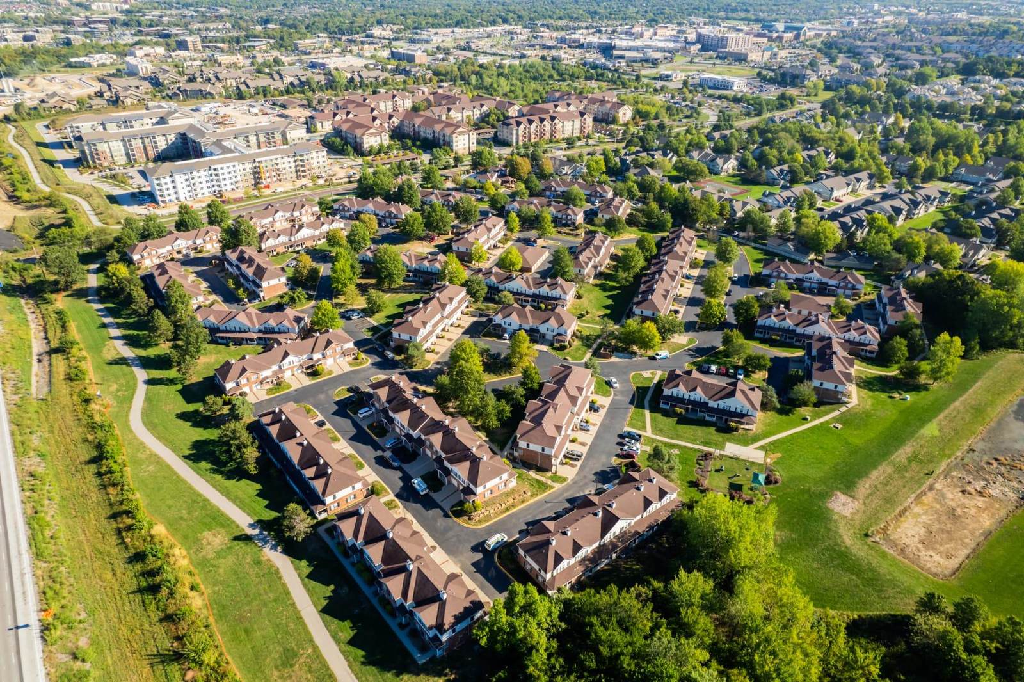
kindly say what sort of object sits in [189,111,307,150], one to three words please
building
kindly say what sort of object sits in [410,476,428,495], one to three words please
car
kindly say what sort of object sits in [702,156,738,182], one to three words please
house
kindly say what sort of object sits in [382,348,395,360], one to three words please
vehicle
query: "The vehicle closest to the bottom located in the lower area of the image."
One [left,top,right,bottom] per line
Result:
[482,532,509,552]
